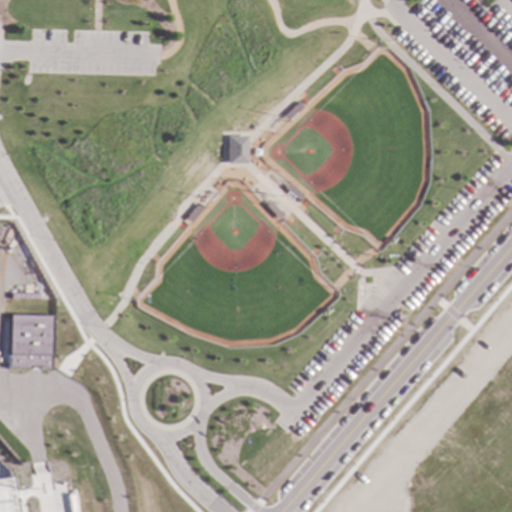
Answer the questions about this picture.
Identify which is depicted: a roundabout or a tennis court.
roundabout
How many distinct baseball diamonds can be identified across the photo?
two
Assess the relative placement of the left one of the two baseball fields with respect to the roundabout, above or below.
above it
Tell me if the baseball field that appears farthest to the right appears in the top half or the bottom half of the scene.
top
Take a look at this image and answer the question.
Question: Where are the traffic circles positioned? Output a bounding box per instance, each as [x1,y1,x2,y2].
[130,358,212,440]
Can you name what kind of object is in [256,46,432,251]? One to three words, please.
baseball field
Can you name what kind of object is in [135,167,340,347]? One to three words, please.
baseball field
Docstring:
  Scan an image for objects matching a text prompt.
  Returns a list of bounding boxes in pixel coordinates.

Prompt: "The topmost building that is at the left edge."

[10,315,56,368]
